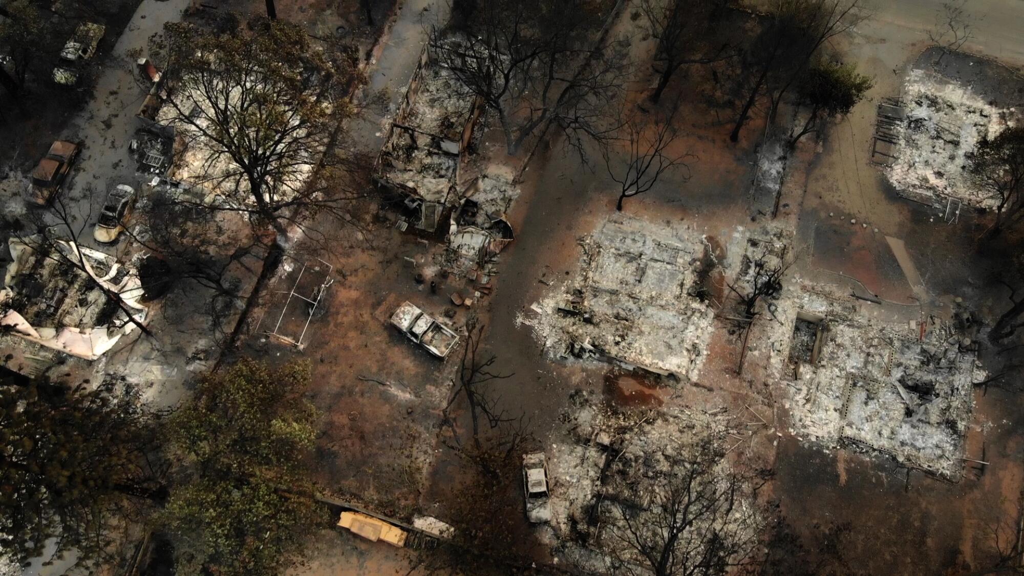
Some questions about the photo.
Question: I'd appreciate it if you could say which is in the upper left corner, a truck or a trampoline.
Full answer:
You can see a truck in the upper left corner.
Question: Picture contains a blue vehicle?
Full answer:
No, no blue vehicle is visible in the view.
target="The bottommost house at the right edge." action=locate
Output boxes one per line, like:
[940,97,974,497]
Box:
[756,270,997,493]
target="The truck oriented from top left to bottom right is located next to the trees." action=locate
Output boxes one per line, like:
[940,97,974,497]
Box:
[392,304,459,358]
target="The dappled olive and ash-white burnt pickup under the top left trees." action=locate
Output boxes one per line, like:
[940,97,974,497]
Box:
[67,23,107,62]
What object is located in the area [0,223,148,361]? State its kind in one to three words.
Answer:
house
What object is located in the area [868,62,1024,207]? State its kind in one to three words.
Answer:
house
